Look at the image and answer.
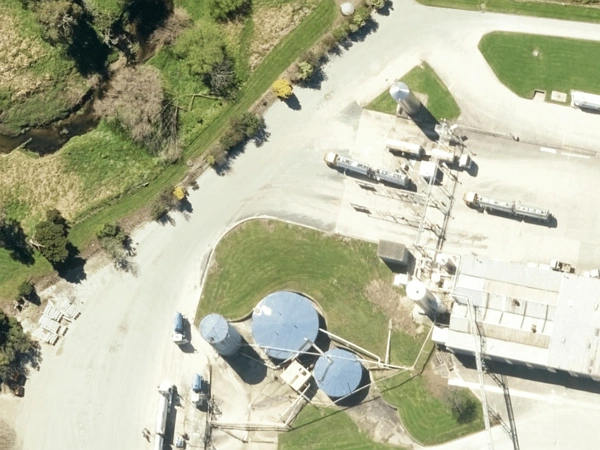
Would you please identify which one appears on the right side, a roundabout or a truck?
truck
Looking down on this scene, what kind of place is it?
industrial area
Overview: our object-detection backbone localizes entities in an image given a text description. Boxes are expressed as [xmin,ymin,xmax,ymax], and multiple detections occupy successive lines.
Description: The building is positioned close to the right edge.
[443,253,600,381]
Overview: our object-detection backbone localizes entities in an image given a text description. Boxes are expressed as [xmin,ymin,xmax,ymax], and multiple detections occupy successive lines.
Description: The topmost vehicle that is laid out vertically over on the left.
[174,312,188,344]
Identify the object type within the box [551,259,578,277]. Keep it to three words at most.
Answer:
vehicle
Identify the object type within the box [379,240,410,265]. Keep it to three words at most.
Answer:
shed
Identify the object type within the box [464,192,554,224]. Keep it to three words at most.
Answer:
truck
